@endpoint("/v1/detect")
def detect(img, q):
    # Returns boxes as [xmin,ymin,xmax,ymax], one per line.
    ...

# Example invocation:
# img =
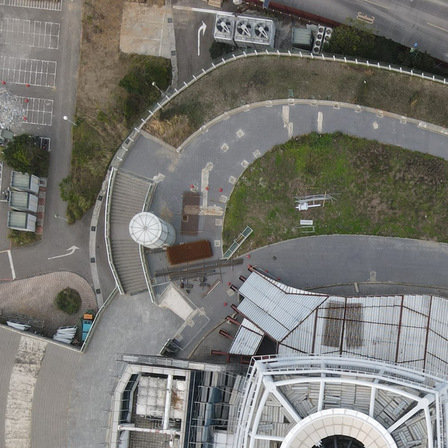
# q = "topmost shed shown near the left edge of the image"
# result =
[10,170,50,193]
